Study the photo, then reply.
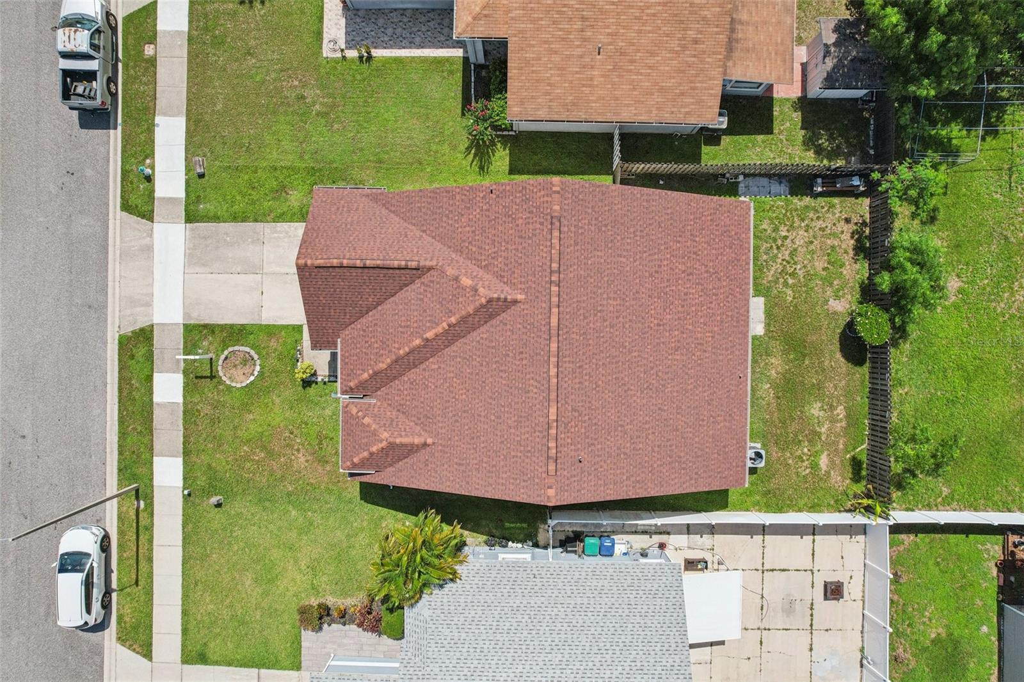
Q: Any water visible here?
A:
No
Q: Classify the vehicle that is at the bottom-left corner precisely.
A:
car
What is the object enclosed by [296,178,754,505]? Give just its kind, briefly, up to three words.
house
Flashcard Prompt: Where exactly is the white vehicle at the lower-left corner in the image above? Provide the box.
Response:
[54,525,111,627]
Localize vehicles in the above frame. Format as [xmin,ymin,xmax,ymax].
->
[54,0,118,115]
[54,525,111,627]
